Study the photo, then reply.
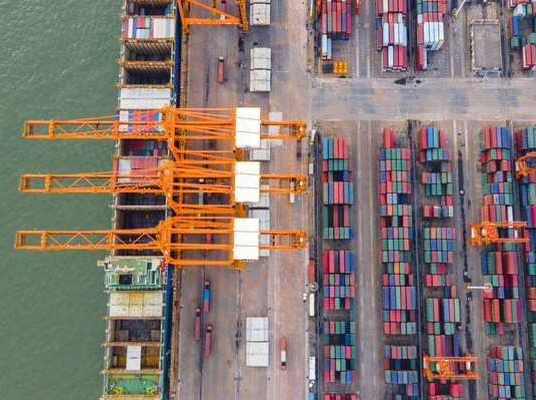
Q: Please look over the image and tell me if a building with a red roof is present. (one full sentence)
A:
No, this view has no building with a red roof in it.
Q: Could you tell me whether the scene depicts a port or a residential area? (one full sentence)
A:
What you see here is a port.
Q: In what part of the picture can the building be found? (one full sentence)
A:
The building is in the top right part of the image.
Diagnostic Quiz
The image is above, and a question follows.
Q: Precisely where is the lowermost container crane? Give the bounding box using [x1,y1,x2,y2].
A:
[419,349,479,379]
